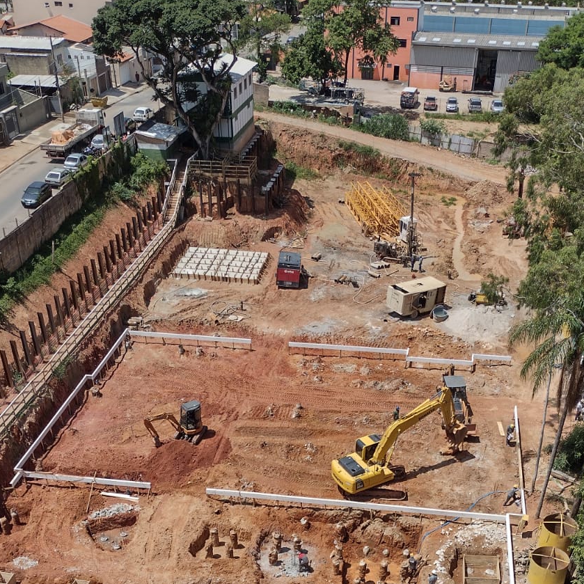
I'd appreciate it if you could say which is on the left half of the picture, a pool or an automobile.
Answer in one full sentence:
It is an automobile that can be seen on the left half of the picture.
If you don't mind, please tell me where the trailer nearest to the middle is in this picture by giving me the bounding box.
[390,263,449,313]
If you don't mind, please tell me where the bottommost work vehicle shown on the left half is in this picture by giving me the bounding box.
[135,390,213,443]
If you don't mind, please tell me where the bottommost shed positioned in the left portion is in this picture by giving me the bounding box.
[131,115,195,172]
